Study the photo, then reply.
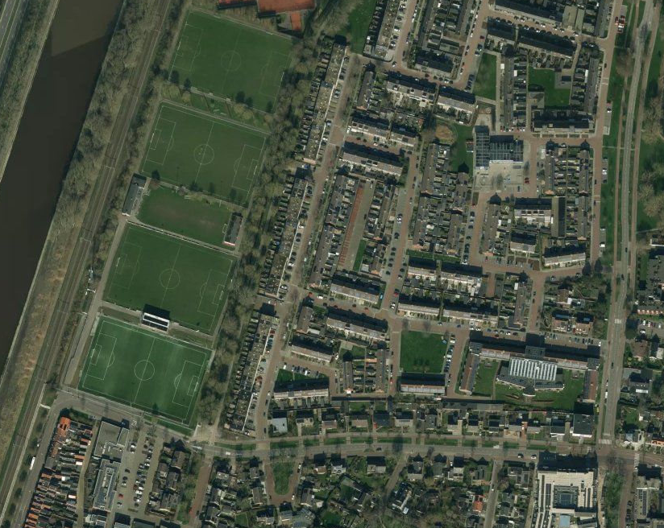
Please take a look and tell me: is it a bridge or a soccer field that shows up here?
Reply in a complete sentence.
There is a soccer field in the scene.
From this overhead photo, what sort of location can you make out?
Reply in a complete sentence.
This image shows a residential area.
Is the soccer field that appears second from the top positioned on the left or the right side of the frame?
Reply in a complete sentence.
It is on the left.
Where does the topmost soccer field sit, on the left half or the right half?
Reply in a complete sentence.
The topmost soccer field sits on the left side.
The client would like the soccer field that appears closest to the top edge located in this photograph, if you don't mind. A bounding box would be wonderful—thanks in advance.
[167,9,295,114]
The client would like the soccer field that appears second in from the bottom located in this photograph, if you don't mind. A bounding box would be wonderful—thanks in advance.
[103,225,234,332]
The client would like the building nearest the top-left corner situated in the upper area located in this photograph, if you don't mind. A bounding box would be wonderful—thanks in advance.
[123,175,148,214]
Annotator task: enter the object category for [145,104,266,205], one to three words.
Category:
soccer field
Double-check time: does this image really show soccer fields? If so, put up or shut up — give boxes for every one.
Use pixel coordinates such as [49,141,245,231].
[167,9,295,114]
[76,316,212,425]
[103,225,234,332]
[145,104,266,205]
